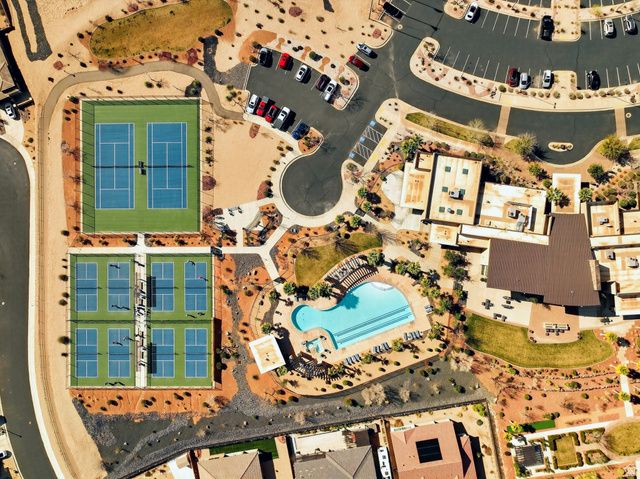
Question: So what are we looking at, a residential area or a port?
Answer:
residential area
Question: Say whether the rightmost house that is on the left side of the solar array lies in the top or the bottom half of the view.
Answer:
bottom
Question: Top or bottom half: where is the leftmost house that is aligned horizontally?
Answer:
bottom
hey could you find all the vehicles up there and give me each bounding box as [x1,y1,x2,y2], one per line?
[0,450,10,460]
[292,120,307,140]
[349,56,367,70]
[382,2,404,19]
[256,95,268,116]
[279,52,290,70]
[258,48,269,66]
[248,94,258,113]
[266,104,278,123]
[274,106,289,128]
[603,18,614,36]
[508,68,518,86]
[316,73,328,92]
[325,79,338,100]
[589,71,599,89]
[466,2,478,21]
[542,16,552,39]
[296,64,307,82]
[624,15,636,34]
[4,102,19,120]
[542,69,552,88]
[358,43,376,57]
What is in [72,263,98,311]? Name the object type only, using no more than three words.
sports court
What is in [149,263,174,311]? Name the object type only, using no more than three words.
sports court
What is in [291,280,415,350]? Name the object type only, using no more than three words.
swimming pool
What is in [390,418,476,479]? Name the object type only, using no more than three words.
house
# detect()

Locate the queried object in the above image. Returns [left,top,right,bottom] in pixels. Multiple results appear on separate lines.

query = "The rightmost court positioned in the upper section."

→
[144,123,190,209]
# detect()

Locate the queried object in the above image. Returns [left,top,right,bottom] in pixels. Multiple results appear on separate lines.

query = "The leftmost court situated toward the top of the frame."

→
[90,123,137,209]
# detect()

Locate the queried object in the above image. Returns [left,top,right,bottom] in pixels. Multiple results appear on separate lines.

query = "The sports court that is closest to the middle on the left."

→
[182,263,208,311]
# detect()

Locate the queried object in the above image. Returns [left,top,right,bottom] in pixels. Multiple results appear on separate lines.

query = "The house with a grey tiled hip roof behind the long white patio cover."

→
[294,443,377,479]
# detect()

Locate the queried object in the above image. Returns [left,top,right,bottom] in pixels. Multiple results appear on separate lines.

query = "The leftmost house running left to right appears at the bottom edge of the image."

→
[198,450,265,479]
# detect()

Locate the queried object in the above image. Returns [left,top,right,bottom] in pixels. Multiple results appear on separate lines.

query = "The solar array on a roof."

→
[416,438,442,463]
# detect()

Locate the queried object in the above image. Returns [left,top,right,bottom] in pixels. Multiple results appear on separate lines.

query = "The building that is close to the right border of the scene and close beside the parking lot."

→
[397,151,640,316]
